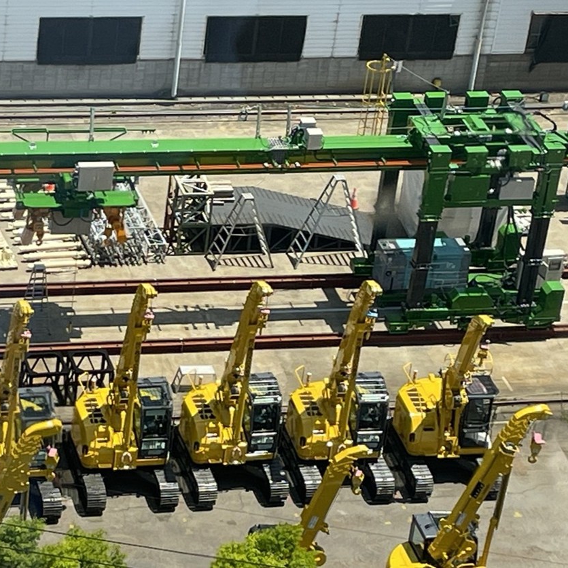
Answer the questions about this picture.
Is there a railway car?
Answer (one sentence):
No, there isn't any railway car down there.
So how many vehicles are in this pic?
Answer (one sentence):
The photo contains no vehicles.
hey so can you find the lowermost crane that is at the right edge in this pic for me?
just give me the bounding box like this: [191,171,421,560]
[391,414,556,568]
